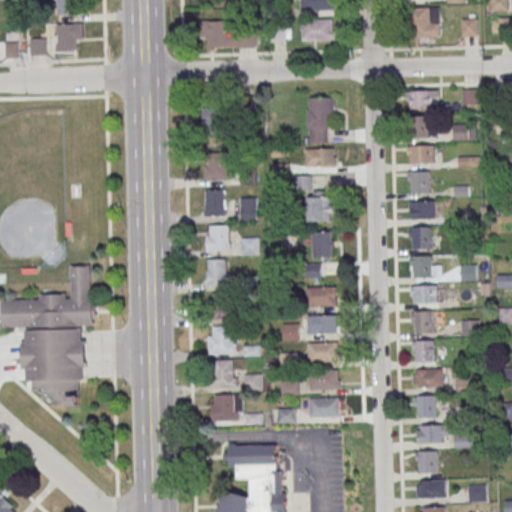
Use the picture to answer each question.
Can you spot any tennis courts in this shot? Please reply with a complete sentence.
No, there appears to be no tennis court in this shot.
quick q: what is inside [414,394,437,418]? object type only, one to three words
house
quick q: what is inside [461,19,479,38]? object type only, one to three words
building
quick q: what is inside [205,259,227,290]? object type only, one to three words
house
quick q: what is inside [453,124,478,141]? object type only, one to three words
building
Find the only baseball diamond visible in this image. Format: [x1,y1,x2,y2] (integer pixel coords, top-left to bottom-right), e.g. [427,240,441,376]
[0,198,66,267]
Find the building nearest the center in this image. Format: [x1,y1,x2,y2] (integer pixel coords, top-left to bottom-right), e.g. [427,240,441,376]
[240,236,260,256]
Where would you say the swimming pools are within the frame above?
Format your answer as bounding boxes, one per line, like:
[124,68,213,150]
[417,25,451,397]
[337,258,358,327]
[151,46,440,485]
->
[478,260,491,272]
[460,289,472,301]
